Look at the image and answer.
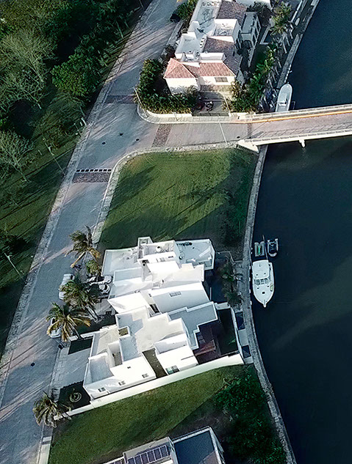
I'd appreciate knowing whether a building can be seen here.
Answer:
Yes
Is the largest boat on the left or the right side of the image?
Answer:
right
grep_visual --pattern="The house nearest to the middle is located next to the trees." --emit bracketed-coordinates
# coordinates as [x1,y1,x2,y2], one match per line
[103,237,222,316]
